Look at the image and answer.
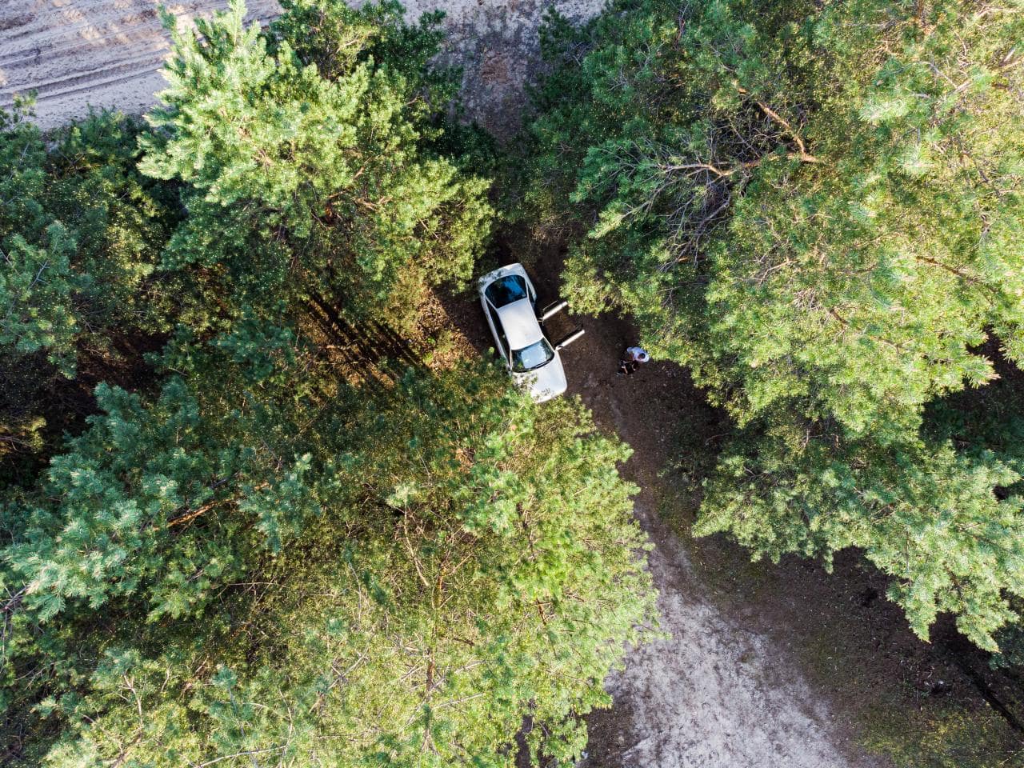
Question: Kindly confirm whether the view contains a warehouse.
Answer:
No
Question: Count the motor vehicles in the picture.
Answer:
1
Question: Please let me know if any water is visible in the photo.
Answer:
No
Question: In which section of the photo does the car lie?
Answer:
center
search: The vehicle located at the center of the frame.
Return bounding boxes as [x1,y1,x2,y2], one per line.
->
[478,265,583,403]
